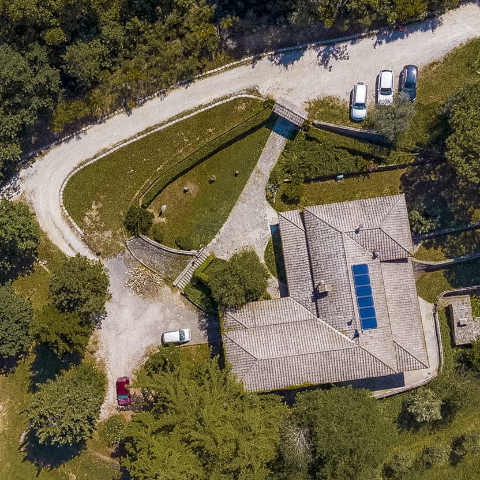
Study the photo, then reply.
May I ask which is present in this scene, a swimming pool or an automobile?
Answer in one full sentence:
It is an automobile that can be seen here.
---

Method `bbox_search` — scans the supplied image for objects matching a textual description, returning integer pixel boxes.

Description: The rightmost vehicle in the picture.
[398,64,417,104]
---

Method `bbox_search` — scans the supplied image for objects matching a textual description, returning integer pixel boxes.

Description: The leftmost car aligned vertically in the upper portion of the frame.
[348,82,366,123]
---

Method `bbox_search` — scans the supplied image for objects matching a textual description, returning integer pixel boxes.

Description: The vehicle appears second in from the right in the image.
[375,69,394,107]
